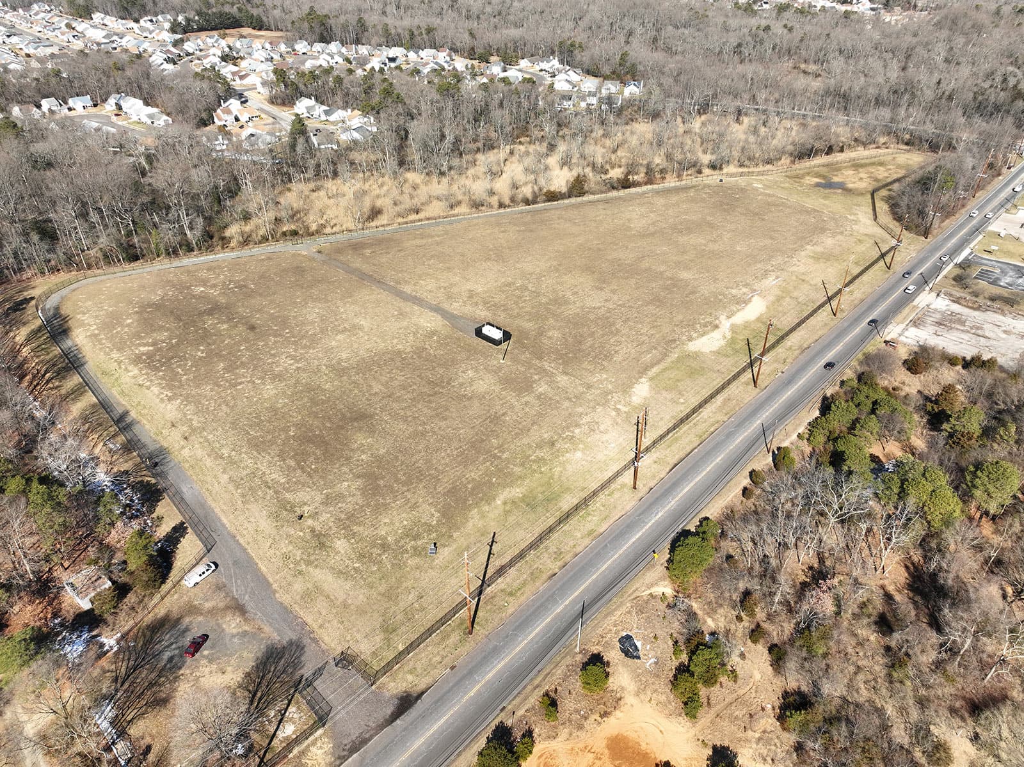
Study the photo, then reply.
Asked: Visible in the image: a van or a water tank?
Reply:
van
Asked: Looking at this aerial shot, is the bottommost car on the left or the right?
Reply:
left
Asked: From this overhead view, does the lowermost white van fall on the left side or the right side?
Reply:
left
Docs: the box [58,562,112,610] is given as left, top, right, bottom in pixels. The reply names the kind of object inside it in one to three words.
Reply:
building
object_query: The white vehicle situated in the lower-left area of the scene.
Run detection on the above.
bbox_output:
[179,561,219,593]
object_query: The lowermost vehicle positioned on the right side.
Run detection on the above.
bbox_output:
[822,360,837,373]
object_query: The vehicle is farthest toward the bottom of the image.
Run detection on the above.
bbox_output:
[182,632,212,663]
